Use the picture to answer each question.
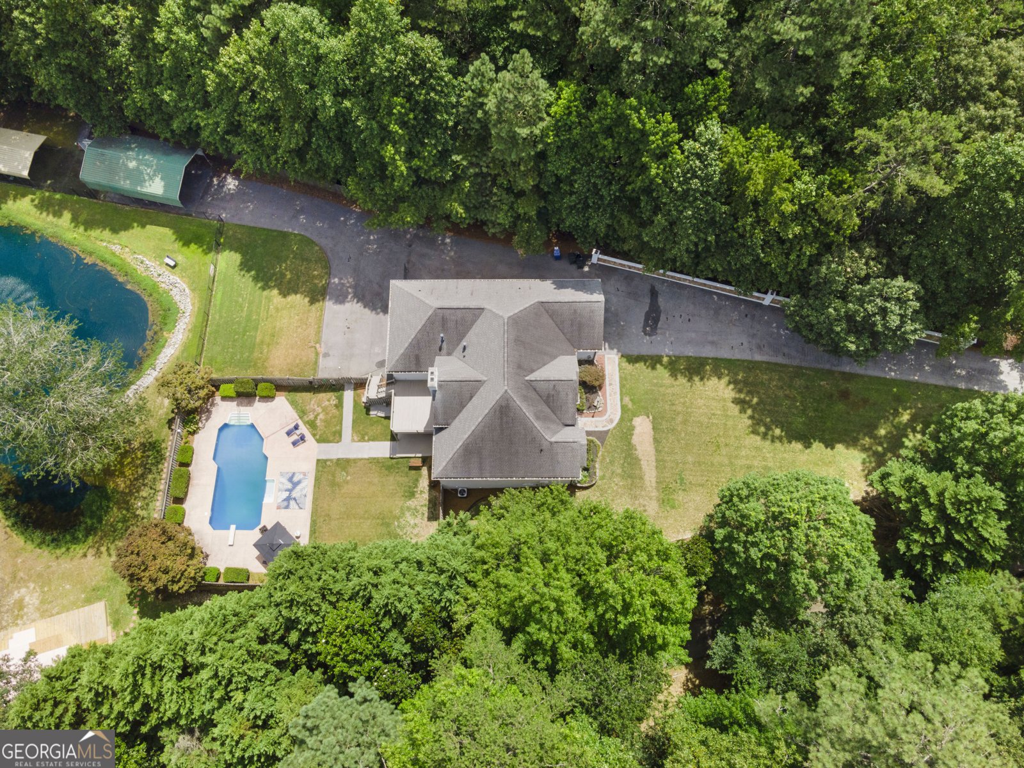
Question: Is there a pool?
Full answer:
Yes, a pool appears in the view.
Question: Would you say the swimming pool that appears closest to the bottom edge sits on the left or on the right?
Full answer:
The swimming pool that appears closest to the bottom edge appears in the left half of the scene.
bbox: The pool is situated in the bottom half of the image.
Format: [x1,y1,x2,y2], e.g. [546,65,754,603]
[186,396,317,573]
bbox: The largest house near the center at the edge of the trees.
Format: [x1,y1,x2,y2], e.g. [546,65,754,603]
[385,278,607,485]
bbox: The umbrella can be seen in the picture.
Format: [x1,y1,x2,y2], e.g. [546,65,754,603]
[253,521,305,567]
